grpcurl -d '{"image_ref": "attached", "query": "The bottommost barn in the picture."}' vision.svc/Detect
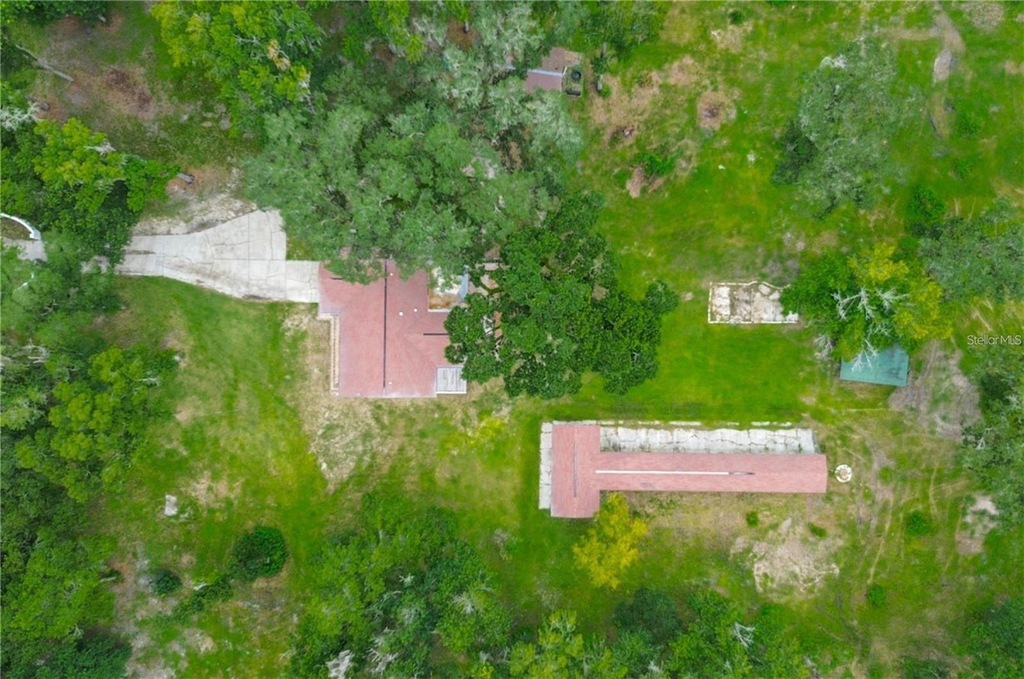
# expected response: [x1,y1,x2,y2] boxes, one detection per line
[551,424,828,518]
